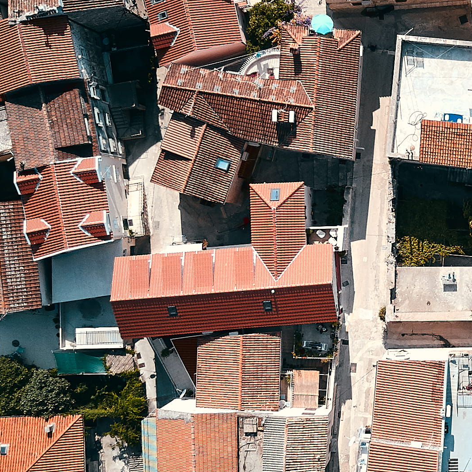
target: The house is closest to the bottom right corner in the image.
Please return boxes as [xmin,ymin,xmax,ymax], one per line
[367,350,451,472]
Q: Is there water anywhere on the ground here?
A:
No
